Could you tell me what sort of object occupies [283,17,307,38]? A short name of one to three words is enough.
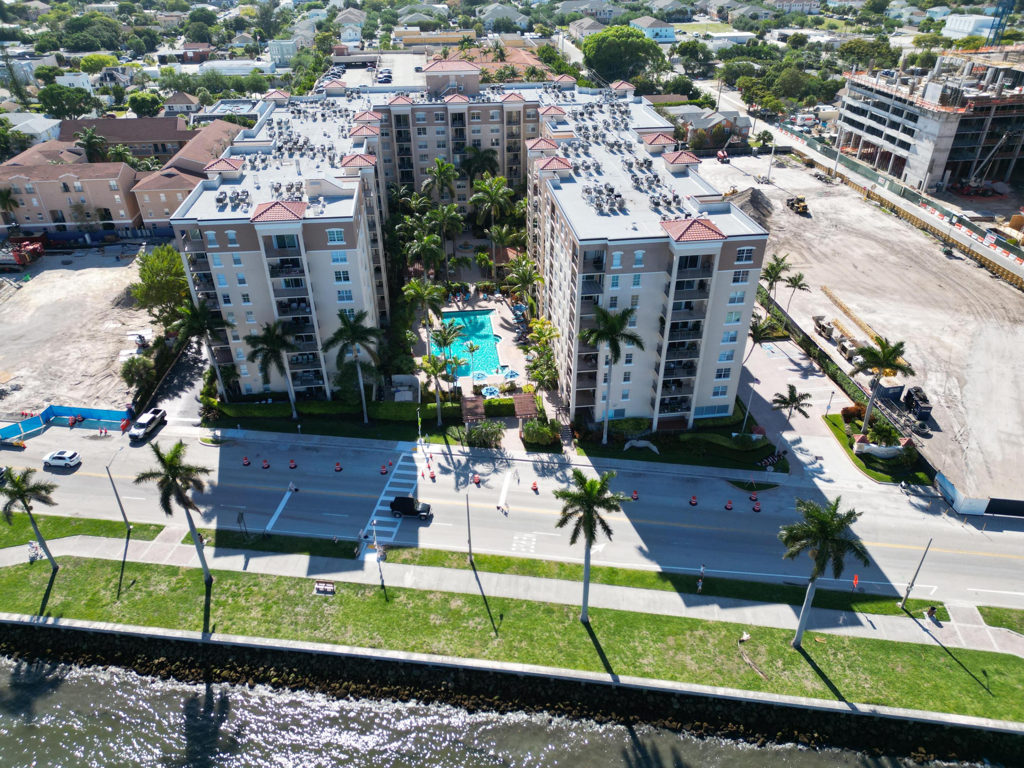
house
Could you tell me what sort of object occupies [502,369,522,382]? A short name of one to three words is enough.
umbrella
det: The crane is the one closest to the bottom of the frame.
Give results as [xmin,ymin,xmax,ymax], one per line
[956,128,1024,193]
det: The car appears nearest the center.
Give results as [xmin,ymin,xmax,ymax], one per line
[388,501,431,524]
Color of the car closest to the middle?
black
